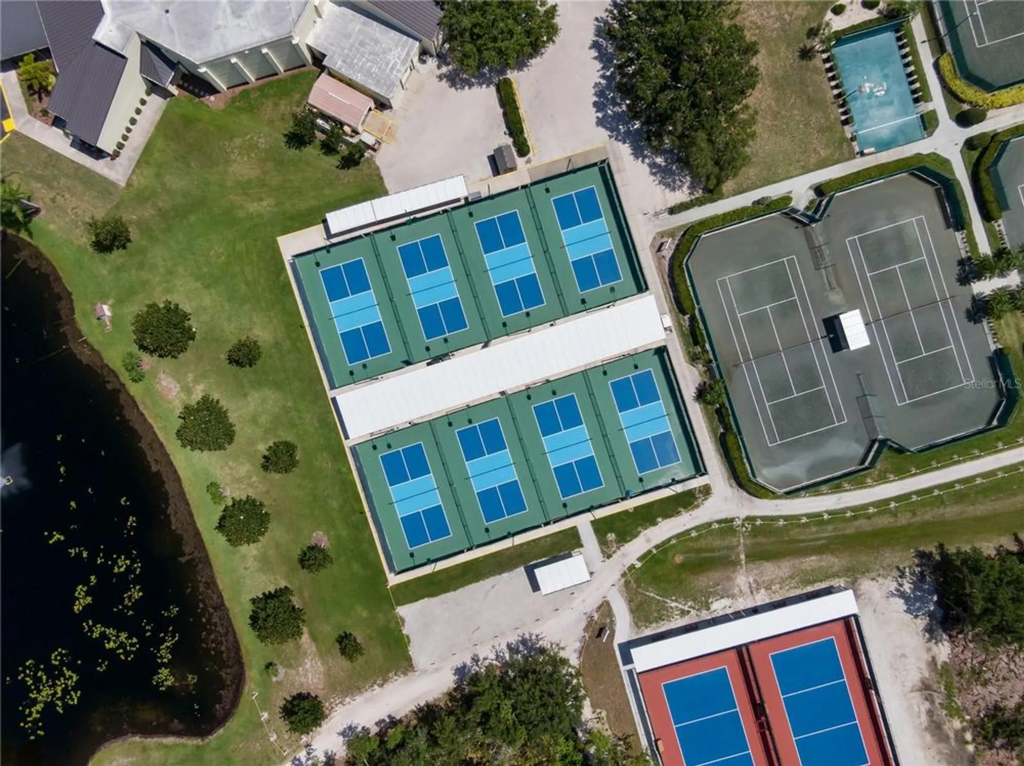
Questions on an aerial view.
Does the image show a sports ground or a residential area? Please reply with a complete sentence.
This looks like a sports ground.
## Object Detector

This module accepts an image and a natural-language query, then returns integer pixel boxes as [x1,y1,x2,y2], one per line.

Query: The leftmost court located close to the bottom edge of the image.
[638,645,778,766]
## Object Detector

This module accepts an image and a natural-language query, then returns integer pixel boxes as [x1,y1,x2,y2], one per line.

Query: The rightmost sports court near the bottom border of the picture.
[744,616,897,766]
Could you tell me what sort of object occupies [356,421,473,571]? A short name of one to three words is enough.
sports court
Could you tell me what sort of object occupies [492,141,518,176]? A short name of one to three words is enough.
shed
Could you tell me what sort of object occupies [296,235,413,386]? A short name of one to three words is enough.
sports court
